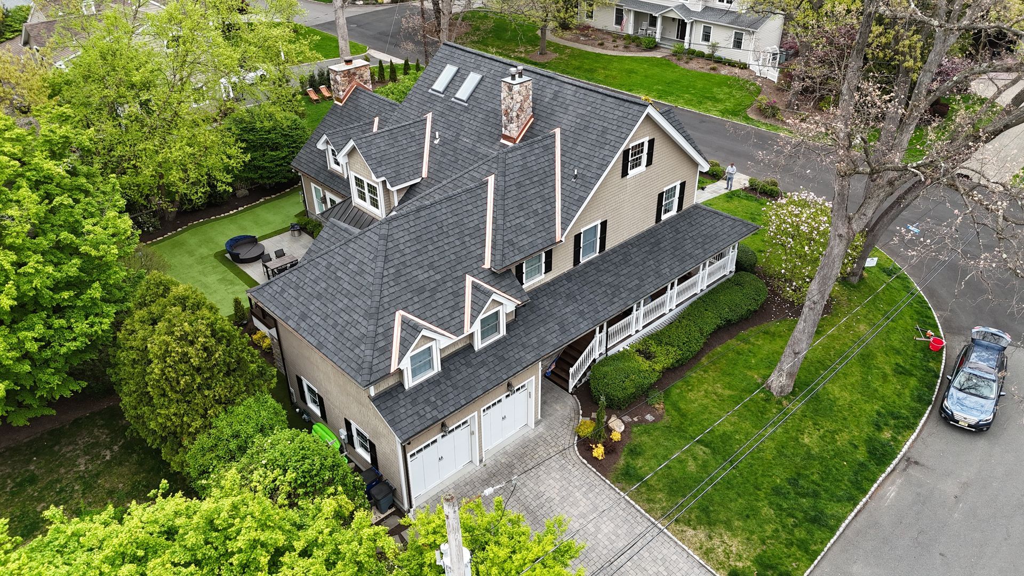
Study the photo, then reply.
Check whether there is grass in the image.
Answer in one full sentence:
Yes, grass can be seen from above here.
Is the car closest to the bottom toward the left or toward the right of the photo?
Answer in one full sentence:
The car closest to the bottom is on the right side of the image.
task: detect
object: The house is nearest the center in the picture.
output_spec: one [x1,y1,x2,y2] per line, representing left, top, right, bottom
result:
[240,42,759,510]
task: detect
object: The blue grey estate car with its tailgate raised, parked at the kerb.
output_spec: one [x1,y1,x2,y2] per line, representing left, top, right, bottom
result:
[939,313,1014,433]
